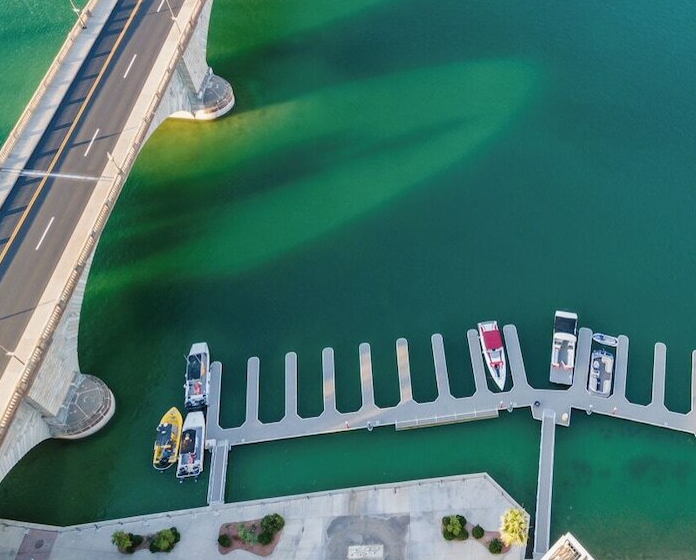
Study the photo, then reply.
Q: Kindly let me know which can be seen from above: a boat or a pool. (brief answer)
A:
boat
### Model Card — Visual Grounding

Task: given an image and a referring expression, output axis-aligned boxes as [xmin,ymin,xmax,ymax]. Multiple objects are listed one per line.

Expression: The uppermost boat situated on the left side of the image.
[184,344,211,409]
